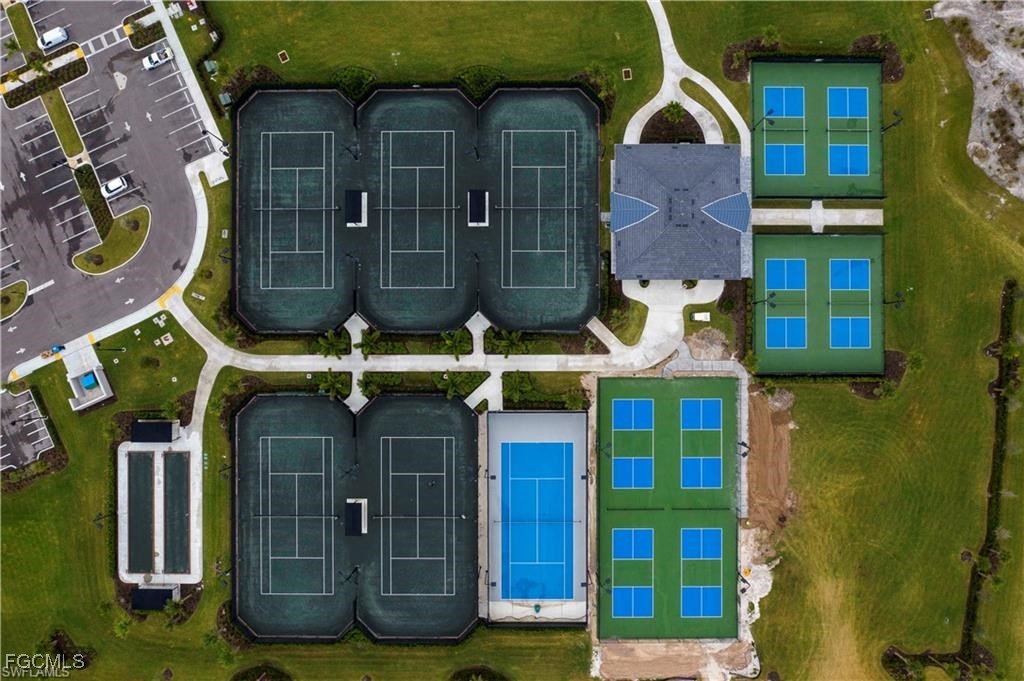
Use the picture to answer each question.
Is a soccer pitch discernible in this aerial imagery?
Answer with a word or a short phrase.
No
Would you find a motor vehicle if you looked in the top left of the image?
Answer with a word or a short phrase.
Yes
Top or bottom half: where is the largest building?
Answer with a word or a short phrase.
top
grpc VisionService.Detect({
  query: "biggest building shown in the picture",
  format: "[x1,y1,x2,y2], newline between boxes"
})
[608,144,750,279]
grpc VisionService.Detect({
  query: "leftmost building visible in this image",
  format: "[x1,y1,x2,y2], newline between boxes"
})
[64,364,116,412]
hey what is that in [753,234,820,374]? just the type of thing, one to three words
sports court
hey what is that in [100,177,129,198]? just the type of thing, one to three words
car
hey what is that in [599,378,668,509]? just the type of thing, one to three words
sports court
